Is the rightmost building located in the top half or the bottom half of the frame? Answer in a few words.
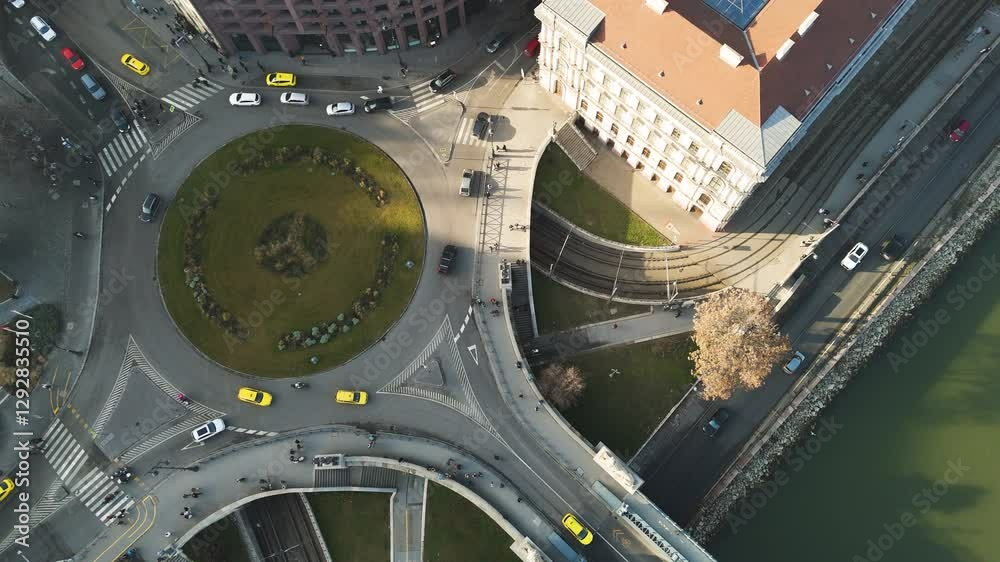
top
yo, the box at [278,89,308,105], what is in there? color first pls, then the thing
white car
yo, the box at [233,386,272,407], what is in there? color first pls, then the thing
yellow car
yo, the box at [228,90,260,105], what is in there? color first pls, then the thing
white car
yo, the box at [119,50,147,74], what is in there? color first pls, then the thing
yellow car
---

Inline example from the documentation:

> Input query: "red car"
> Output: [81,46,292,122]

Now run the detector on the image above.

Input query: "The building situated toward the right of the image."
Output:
[536,0,915,231]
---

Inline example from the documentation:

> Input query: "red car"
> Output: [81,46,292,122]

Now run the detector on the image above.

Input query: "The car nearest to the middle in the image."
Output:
[437,242,455,273]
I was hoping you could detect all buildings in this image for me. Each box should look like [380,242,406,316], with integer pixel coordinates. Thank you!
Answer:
[536,0,915,231]
[172,0,476,59]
